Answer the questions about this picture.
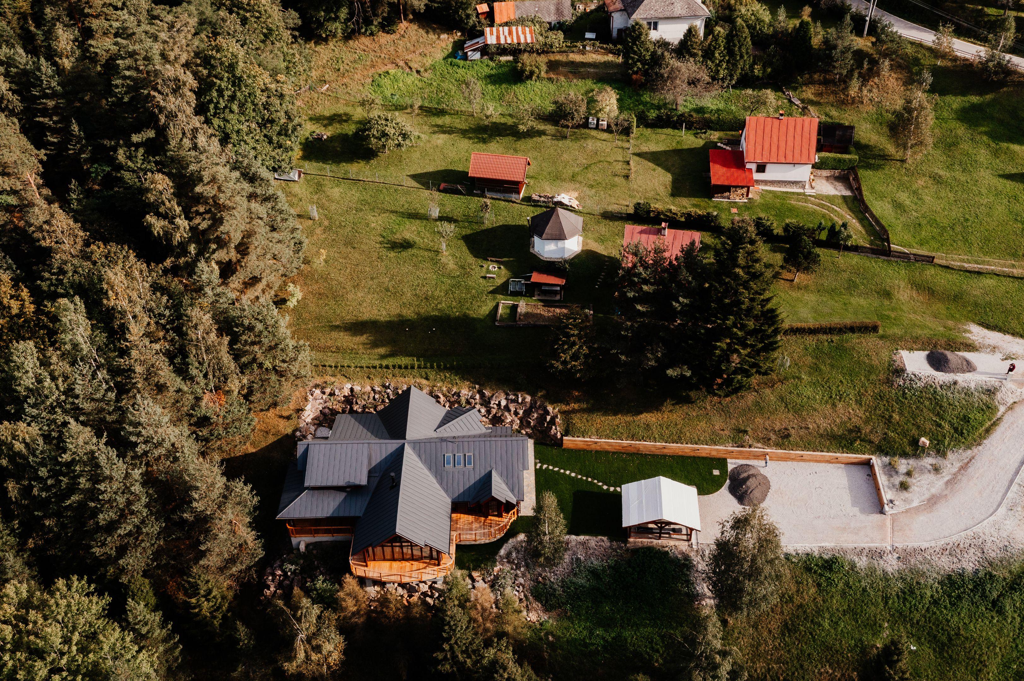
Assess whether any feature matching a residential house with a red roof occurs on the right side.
Yes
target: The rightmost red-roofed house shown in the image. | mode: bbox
[731,112,817,194]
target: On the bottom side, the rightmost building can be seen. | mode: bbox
[620,476,703,544]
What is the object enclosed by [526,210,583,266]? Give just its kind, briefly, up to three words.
house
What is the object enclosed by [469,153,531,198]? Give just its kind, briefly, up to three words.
barn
